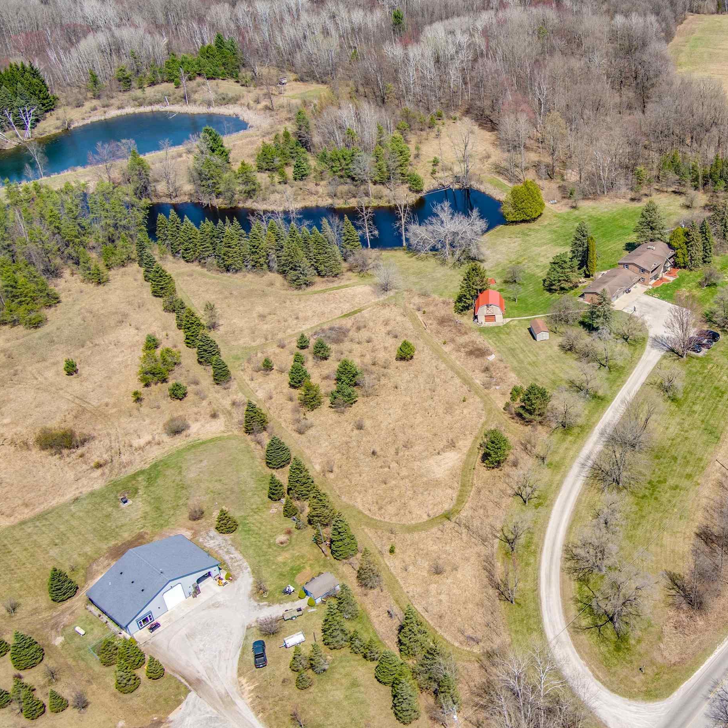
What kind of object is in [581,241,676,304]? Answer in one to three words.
house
